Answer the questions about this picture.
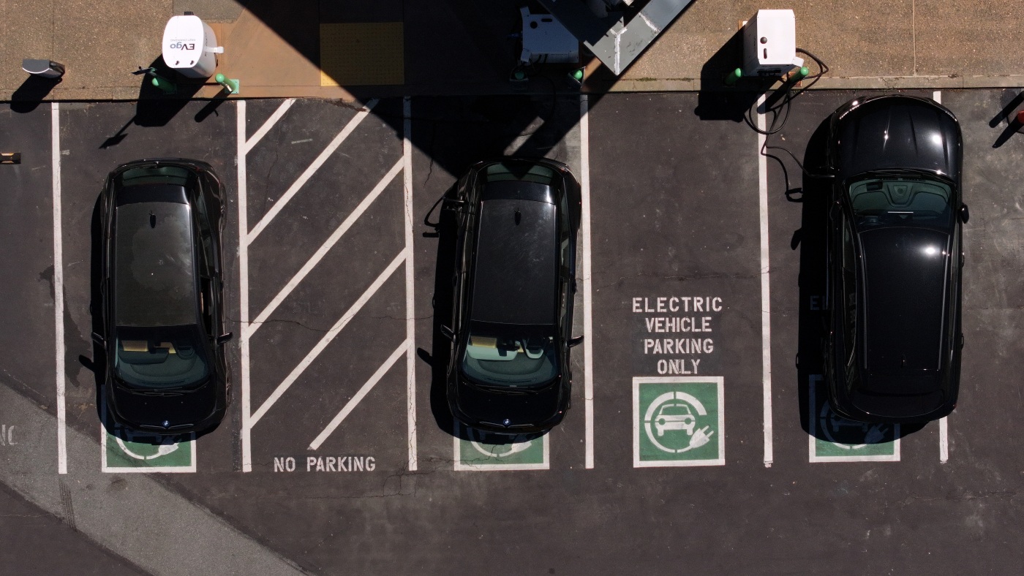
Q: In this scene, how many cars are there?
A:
3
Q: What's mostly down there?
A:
paved ground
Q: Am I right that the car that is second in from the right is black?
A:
Yes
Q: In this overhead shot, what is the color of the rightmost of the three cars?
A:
black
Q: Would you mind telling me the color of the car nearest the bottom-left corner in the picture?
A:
black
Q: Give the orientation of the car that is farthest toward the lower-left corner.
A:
up and down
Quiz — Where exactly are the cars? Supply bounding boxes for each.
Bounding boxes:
[817,96,970,426]
[92,160,235,435]
[440,158,583,434]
